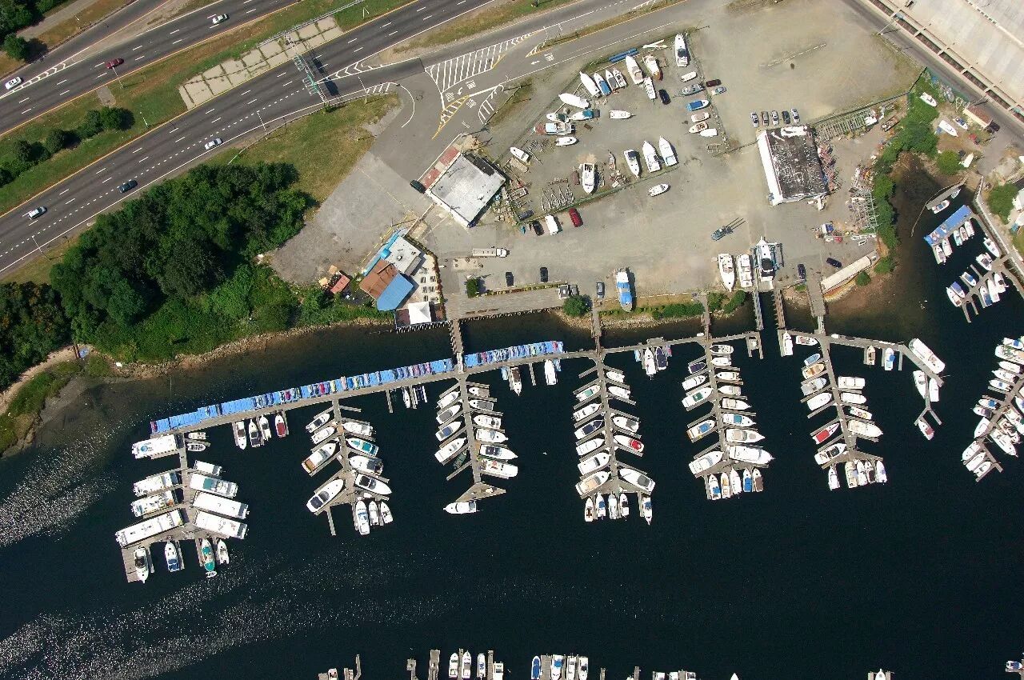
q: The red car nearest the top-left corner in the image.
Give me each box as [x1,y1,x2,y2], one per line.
[105,56,124,70]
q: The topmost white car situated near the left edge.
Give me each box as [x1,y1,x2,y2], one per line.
[4,76,23,90]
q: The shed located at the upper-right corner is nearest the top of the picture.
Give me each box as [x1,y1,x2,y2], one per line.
[963,105,992,129]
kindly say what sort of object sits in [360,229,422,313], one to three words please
building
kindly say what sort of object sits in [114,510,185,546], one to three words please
boat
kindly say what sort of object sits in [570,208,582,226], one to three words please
vehicle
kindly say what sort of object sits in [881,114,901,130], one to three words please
ship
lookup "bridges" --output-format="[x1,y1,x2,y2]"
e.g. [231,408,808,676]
[868,0,1024,119]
